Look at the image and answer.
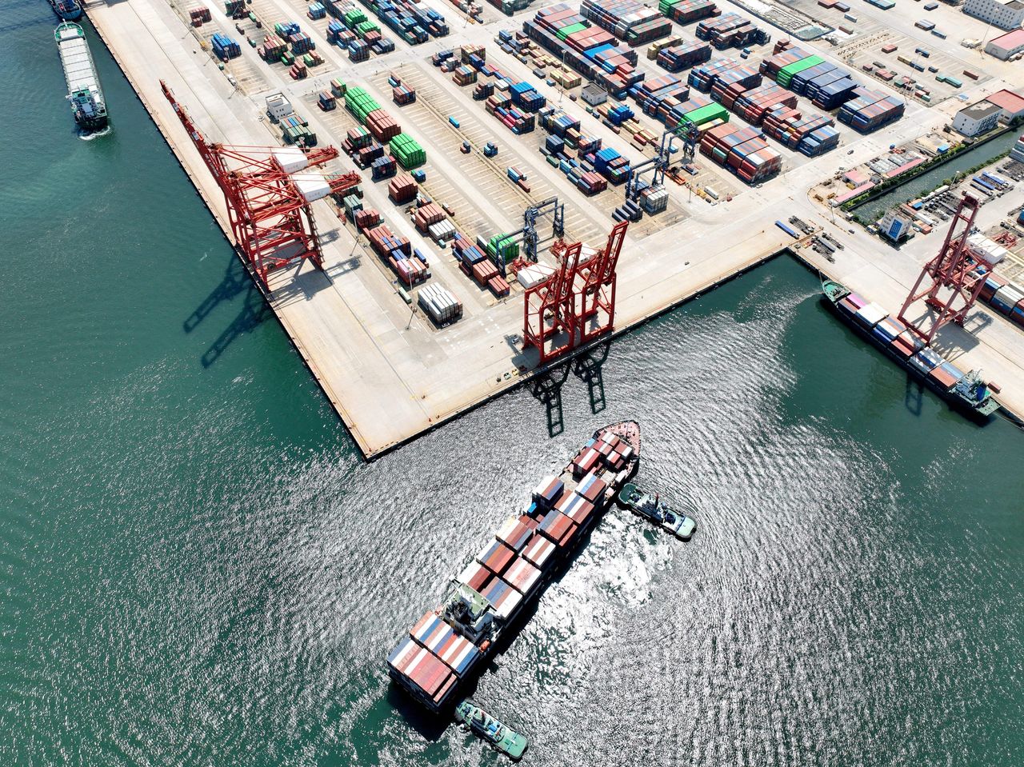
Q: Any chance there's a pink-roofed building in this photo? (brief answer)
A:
Yes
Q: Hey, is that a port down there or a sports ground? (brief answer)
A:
port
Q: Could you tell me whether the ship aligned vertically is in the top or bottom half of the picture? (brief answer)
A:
top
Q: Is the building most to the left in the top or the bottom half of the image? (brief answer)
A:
top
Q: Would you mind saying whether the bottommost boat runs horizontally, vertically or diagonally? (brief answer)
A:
diagonally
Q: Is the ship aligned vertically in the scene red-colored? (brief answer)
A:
No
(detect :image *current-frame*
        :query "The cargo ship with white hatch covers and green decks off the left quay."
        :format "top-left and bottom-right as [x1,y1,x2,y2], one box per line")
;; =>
[56,8,109,128]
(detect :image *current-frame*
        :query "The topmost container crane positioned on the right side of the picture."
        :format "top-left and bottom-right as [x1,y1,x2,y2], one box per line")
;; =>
[659,119,697,164]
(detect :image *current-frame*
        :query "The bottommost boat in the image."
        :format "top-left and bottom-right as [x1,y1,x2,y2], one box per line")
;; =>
[452,697,529,760]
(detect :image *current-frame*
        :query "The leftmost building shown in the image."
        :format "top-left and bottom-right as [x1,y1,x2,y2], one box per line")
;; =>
[264,91,296,123]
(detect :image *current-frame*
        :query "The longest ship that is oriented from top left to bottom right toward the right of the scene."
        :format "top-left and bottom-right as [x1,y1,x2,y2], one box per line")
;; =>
[815,273,1023,435]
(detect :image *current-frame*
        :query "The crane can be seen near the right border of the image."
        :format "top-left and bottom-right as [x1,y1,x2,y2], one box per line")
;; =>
[893,199,1009,345]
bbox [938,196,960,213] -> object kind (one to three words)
vehicle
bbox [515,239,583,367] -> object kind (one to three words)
container crane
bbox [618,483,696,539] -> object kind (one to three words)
boat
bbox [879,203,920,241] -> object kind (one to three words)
building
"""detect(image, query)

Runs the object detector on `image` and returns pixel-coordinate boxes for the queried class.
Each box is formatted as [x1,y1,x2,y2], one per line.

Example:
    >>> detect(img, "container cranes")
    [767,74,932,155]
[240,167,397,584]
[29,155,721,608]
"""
[515,239,583,367]
[559,218,631,346]
[893,199,1009,345]
[625,156,665,203]
[659,119,697,164]
[495,226,535,276]
[525,196,564,243]
[159,74,340,265]
[178,101,361,296]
